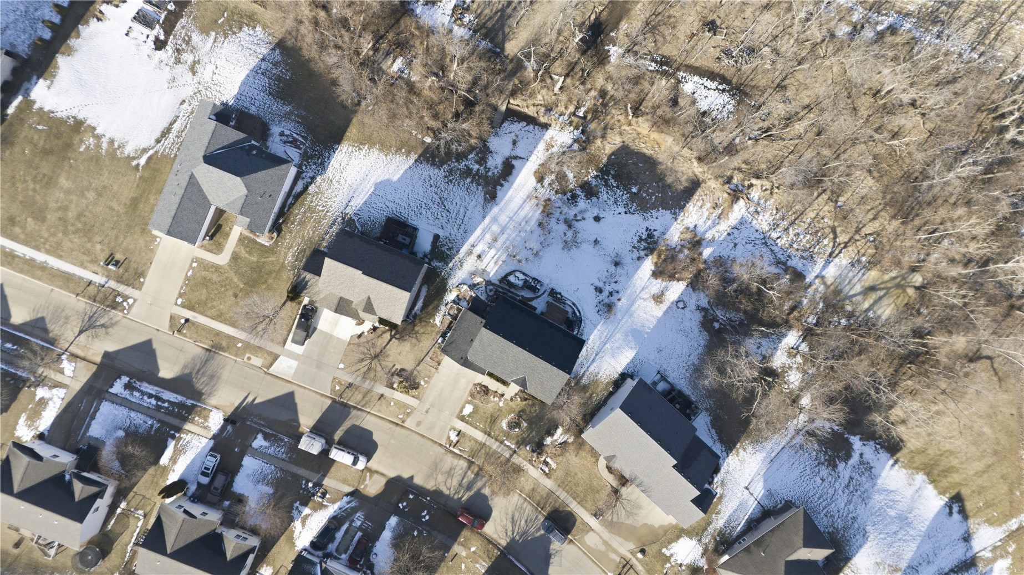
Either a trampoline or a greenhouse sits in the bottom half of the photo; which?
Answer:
trampoline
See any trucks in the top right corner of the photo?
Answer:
No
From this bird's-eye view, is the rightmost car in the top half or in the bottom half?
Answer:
bottom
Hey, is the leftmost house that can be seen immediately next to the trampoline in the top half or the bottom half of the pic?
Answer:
bottom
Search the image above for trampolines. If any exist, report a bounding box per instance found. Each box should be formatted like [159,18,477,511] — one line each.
[66,538,105,572]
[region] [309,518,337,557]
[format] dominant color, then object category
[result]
black car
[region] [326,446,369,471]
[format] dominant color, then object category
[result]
white car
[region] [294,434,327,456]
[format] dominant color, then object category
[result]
white camper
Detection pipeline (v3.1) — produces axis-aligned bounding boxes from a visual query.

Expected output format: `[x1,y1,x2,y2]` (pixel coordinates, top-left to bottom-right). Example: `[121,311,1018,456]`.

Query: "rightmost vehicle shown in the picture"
[538,519,572,550]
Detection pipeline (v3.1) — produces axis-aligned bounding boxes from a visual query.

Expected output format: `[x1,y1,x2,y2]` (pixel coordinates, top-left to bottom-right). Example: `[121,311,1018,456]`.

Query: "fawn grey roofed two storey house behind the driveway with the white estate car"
[135,494,266,575]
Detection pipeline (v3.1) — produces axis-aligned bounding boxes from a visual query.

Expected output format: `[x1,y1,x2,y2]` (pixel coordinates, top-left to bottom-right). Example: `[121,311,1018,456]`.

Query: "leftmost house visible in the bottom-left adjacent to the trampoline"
[0,430,125,551]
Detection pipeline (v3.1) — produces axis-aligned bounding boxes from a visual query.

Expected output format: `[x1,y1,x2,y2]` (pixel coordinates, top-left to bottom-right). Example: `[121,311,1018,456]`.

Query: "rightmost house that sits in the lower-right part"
[714,504,835,575]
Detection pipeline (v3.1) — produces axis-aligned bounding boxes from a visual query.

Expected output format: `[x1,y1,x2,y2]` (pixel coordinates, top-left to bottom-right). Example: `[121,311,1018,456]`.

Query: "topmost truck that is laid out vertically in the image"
[289,303,314,347]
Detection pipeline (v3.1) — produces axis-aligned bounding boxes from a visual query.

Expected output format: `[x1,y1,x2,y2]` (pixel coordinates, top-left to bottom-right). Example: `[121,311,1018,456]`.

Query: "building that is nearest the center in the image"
[440,294,586,405]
